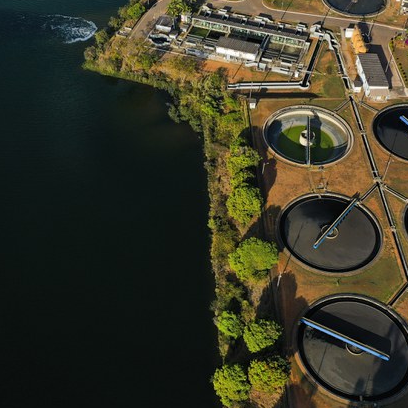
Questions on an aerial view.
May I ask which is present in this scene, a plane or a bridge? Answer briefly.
bridge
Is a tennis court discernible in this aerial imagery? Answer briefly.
No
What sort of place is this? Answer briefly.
industrial area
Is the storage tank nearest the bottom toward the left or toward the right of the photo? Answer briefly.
right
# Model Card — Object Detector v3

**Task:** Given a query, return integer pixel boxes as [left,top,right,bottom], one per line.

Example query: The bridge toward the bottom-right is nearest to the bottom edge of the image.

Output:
[301,316,389,361]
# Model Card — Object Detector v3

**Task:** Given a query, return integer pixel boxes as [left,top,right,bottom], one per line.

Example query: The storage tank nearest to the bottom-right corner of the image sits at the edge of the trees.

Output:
[295,292,408,405]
